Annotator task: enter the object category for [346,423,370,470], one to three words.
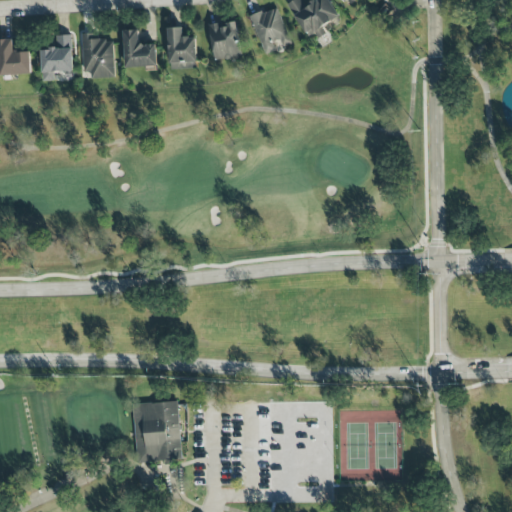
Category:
tennis court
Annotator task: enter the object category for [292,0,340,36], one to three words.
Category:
house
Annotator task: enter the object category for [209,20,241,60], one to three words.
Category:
house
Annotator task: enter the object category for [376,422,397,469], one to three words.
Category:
tennis court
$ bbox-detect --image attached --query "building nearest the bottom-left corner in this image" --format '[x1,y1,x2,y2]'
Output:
[132,402,182,463]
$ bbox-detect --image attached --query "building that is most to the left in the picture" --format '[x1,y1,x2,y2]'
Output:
[0,38,30,80]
